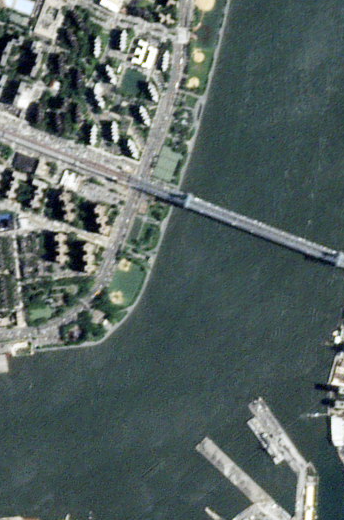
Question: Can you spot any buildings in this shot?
Yes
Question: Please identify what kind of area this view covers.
port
